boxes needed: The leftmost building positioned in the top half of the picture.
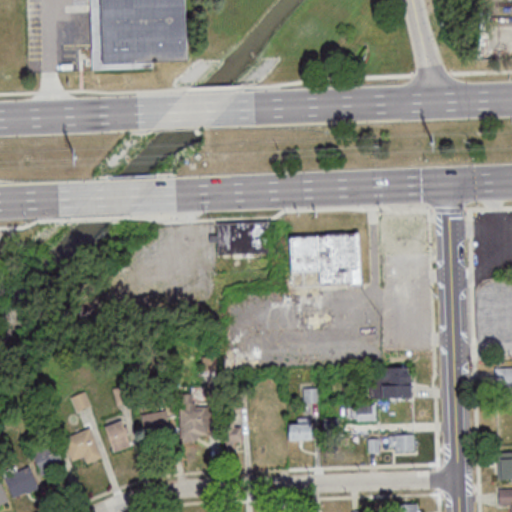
[90,0,188,71]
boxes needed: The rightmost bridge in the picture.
[136,86,254,133]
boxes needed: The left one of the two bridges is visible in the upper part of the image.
[58,174,176,228]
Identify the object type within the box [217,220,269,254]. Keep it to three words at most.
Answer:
building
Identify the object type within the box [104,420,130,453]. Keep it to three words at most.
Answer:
house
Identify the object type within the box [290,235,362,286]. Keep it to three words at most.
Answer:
building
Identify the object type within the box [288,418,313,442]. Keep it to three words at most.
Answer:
house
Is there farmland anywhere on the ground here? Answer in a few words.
No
